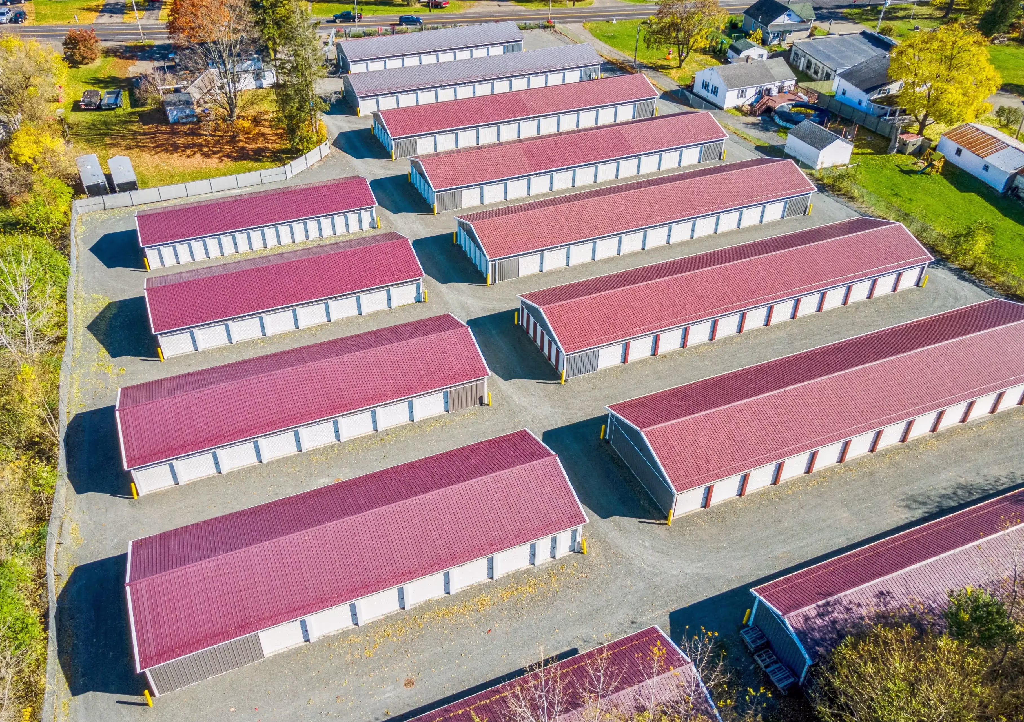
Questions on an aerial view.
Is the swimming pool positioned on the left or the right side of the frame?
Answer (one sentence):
The swimming pool is on the right side of the image.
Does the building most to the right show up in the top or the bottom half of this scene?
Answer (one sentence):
It is in the top half that the building most to the right appears.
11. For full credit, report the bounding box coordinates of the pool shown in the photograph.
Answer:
[773,107,830,130]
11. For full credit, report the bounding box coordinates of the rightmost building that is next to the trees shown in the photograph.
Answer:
[934,119,1024,193]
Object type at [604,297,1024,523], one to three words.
building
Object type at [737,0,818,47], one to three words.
house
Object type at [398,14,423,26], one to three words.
vehicle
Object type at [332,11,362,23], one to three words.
vehicle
